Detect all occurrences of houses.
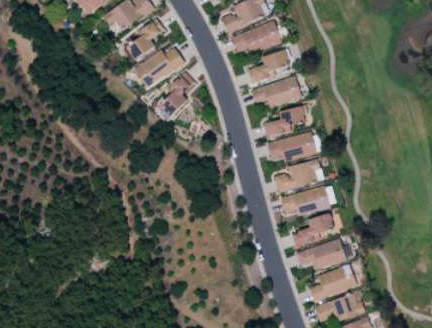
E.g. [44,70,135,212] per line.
[222,0,270,34]
[281,186,336,216]
[156,71,196,120]
[292,212,335,247]
[315,290,364,322]
[248,48,290,82]
[264,104,307,138]
[310,265,358,302]
[274,160,325,192]
[296,239,353,270]
[126,16,166,60]
[267,132,321,160]
[231,22,280,54]
[76,0,104,14]
[251,76,302,107]
[130,46,185,88]
[105,0,156,34]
